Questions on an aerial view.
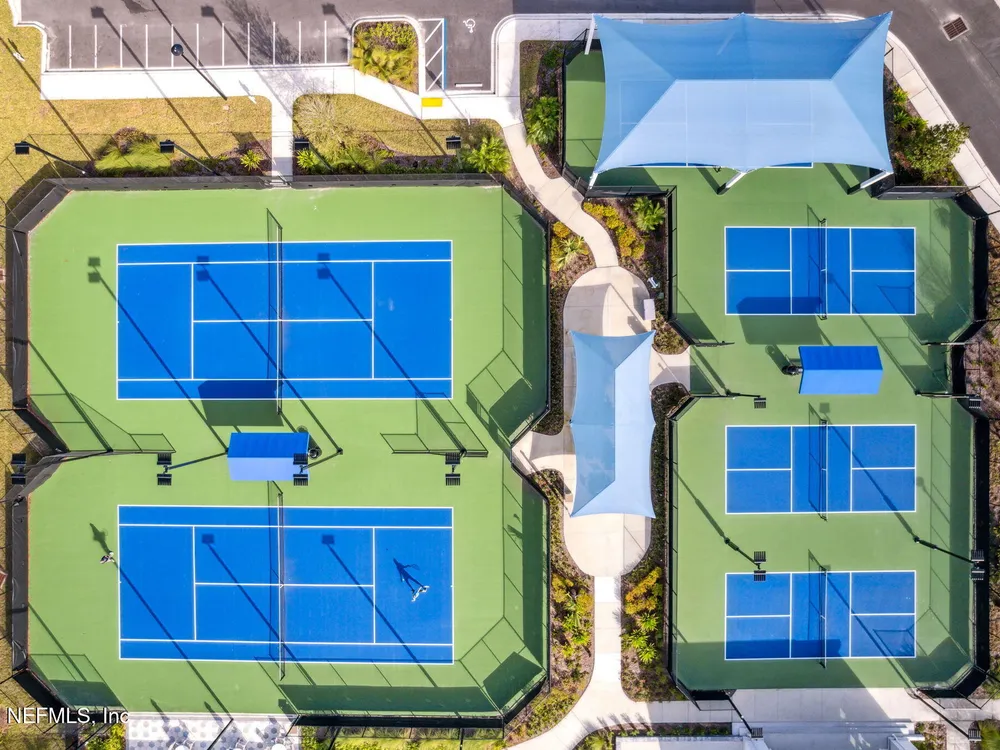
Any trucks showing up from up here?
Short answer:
No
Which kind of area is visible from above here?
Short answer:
sports ground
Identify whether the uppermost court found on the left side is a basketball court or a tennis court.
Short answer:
tennis court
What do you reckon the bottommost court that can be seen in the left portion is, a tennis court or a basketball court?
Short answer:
tennis court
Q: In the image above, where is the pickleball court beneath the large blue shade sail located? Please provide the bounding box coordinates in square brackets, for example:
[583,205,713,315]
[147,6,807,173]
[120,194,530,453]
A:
[562,48,869,197]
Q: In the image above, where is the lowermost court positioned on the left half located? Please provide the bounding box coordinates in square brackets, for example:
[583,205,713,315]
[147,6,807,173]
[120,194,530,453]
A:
[26,450,548,714]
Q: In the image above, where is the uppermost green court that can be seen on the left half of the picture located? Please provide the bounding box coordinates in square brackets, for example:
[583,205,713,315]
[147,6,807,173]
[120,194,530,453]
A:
[27,187,549,450]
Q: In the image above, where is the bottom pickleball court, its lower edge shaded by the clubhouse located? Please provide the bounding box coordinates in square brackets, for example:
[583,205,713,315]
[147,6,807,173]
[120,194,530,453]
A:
[676,541,974,689]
